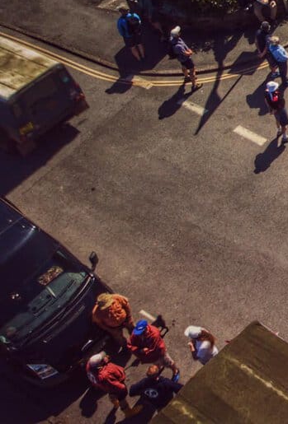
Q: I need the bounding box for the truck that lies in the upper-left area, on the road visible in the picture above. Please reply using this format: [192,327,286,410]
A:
[0,35,100,175]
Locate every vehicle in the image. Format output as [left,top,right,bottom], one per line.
[0,245,114,424]
[0,35,100,175]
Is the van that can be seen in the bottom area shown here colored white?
No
